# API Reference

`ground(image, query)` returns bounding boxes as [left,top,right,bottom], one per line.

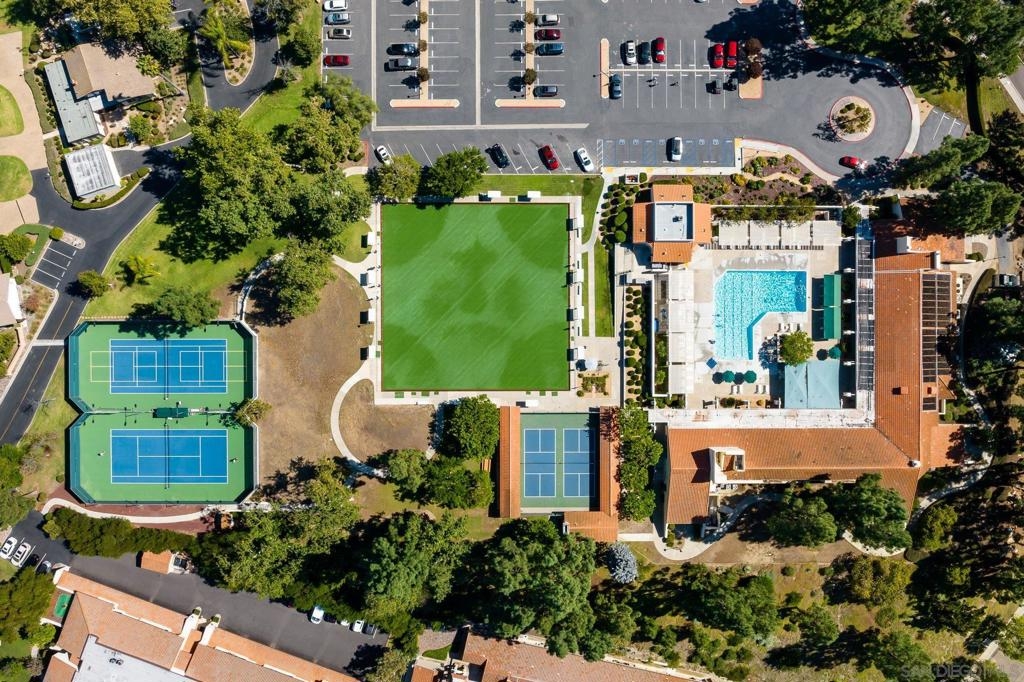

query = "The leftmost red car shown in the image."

[325,54,349,66]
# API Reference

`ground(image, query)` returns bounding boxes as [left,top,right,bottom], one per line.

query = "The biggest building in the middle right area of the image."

[649,198,976,537]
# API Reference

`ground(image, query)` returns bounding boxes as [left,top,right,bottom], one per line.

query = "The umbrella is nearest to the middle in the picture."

[584,355,599,369]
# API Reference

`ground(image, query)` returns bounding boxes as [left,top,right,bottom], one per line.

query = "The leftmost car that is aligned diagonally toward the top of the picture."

[374,143,393,166]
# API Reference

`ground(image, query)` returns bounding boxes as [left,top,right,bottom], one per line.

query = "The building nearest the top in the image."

[45,44,187,143]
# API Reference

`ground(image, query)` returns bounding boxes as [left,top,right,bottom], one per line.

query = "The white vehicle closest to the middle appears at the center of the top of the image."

[576,147,595,172]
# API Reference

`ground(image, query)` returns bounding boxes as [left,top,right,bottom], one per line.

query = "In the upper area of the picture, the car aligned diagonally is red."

[540,145,559,169]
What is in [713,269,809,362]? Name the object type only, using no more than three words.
swimming pool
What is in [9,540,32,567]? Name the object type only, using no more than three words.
car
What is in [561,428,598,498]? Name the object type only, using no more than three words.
sports court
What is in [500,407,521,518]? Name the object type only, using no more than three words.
building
